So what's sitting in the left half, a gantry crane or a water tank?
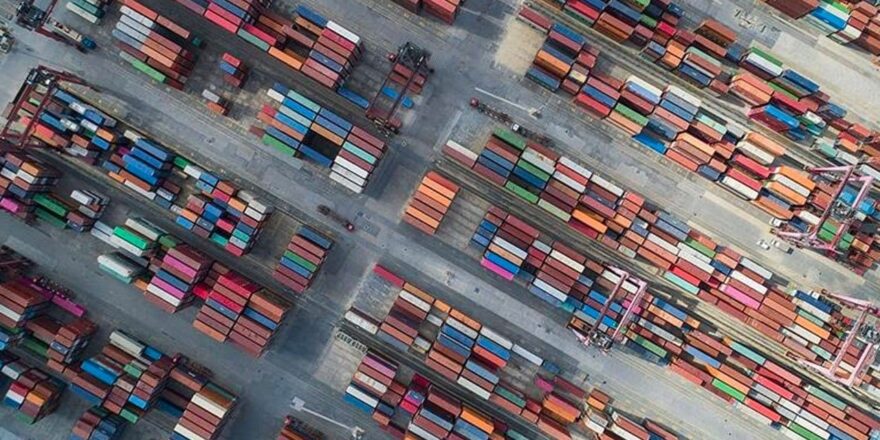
gantry crane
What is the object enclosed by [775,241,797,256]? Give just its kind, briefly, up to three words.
vehicle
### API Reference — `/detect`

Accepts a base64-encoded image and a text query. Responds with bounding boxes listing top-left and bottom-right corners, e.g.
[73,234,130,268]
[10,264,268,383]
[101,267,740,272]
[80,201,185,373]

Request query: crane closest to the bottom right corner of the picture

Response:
[785,288,880,387]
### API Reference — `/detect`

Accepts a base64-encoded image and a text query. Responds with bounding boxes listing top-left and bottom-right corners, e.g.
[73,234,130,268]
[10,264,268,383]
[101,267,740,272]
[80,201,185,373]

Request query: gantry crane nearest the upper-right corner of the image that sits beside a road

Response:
[775,161,880,251]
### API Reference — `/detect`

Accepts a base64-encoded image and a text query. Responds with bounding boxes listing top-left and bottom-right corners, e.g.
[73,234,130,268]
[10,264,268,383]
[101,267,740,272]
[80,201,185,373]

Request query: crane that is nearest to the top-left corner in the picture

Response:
[14,0,85,50]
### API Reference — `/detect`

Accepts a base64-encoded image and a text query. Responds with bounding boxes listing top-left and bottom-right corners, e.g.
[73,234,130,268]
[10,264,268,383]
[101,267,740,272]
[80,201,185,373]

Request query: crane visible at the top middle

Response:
[364,47,429,138]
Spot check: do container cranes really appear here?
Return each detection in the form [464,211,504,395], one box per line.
[14,0,85,50]
[775,161,880,251]
[785,288,880,387]
[565,261,650,354]
[364,47,429,138]
[0,68,99,157]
